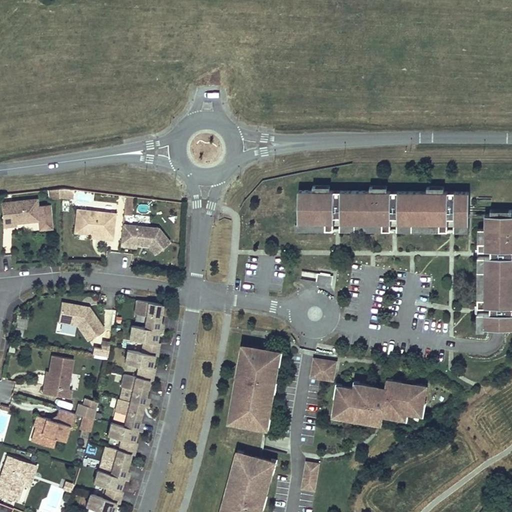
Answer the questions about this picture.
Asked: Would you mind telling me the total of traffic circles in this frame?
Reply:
two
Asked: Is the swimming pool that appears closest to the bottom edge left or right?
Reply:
left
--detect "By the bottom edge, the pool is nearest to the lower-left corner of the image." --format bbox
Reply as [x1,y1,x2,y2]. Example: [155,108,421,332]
[38,484,64,512]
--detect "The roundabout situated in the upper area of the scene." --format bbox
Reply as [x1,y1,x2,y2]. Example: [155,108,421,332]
[169,111,244,186]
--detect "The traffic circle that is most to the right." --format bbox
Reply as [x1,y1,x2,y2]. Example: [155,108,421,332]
[290,288,340,338]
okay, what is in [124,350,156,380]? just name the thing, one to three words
house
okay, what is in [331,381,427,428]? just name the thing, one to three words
building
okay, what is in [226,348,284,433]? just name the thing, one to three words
building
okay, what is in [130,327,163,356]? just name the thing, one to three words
house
